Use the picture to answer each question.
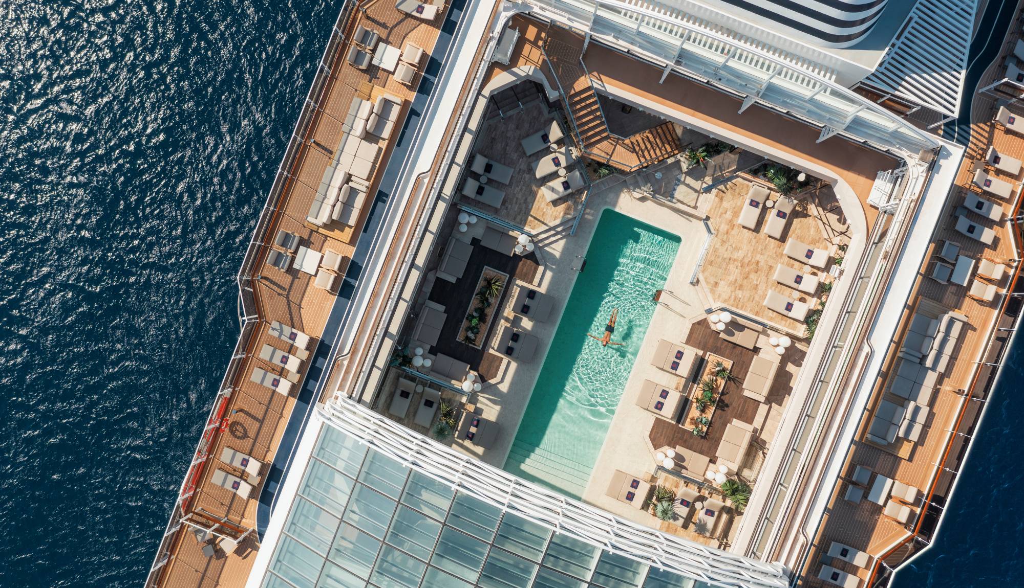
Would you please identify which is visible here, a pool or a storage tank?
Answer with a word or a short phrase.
pool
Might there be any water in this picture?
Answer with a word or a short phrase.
Yes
